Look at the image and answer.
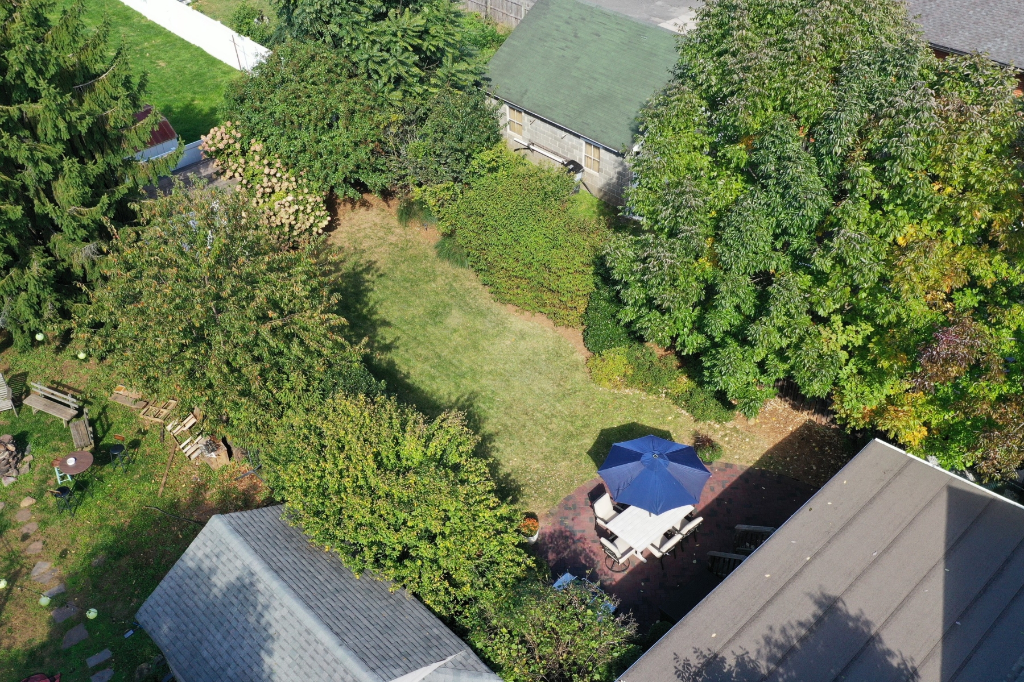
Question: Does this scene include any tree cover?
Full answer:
Yes, some tree cover is visible.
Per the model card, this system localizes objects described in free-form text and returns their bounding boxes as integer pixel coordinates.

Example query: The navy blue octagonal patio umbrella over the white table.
[598,438,712,519]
